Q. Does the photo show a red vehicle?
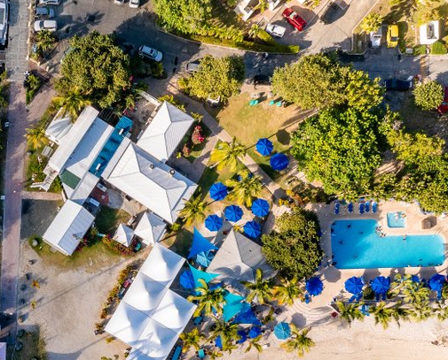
Yes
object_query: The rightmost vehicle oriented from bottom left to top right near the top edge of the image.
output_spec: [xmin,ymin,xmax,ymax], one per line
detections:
[316,1,339,27]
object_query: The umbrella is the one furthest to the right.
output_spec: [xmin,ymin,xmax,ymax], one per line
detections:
[425,274,443,292]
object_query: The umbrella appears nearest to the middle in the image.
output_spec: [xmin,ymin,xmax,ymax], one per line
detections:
[208,184,226,201]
